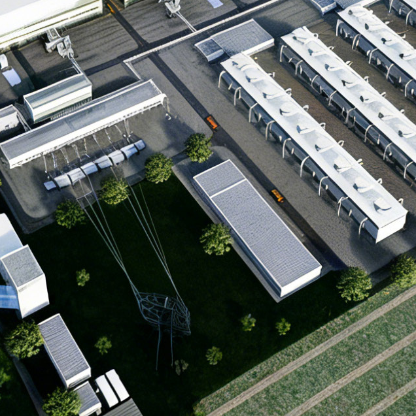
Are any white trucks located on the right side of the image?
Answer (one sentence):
No, I see no white truck on the right side of the image.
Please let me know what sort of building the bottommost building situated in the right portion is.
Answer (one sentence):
I'd say the bottommost building situated in the right portion is a warehouse.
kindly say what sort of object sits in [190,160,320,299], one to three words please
warehouse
